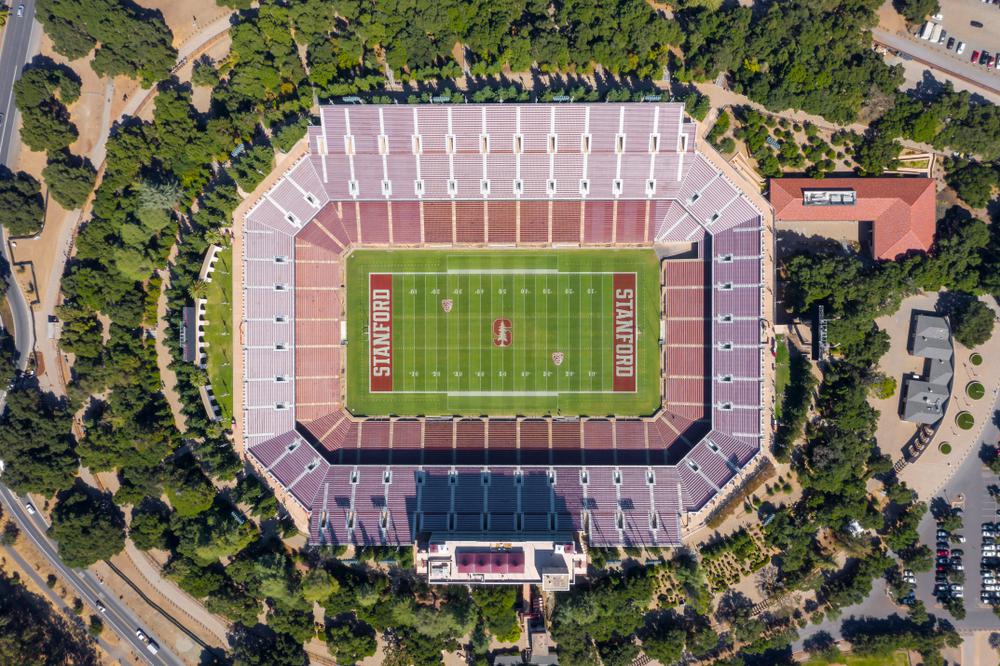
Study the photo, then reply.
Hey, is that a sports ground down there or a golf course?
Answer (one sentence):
This looks like a sports ground.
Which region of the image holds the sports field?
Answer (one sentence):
The sports field sits in the center section of the image.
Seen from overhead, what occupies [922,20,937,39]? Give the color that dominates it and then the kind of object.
white vehicle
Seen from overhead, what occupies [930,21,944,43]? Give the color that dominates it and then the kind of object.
white vehicle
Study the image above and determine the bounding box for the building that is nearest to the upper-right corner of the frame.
[768,178,936,260]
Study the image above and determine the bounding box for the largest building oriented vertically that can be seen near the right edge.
[899,315,959,465]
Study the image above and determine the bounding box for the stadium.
[231,103,777,547]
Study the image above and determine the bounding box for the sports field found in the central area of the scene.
[347,249,660,415]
